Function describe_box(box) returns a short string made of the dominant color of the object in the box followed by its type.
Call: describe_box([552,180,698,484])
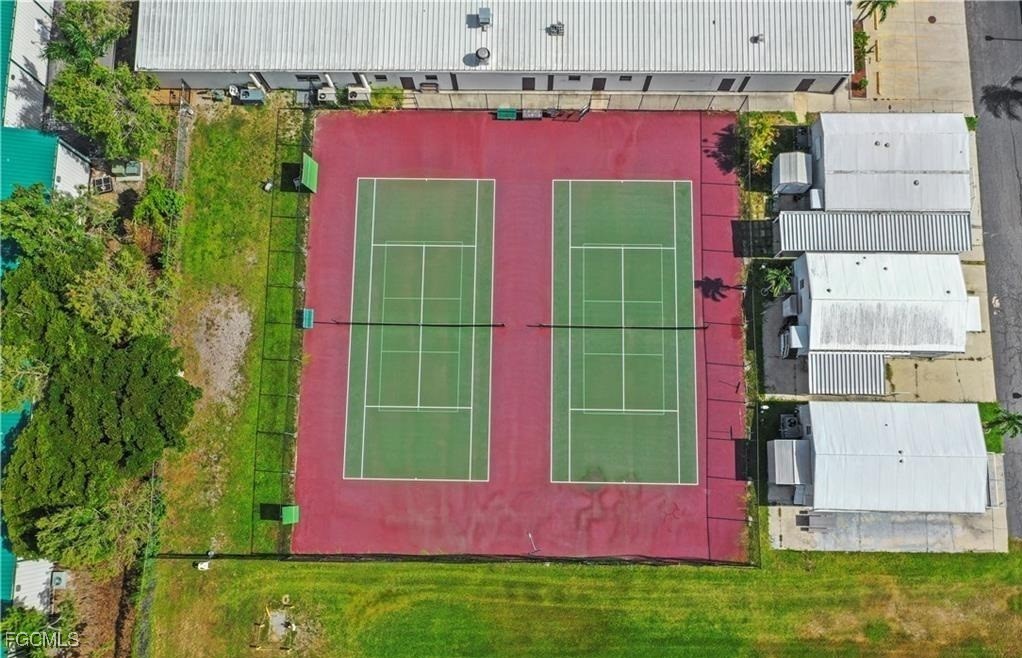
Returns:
green tennis court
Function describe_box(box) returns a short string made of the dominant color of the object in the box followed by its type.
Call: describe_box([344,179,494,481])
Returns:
green tennis court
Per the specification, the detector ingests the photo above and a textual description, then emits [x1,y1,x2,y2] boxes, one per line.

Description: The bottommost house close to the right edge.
[797,402,997,513]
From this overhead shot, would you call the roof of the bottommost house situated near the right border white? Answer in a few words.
Yes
